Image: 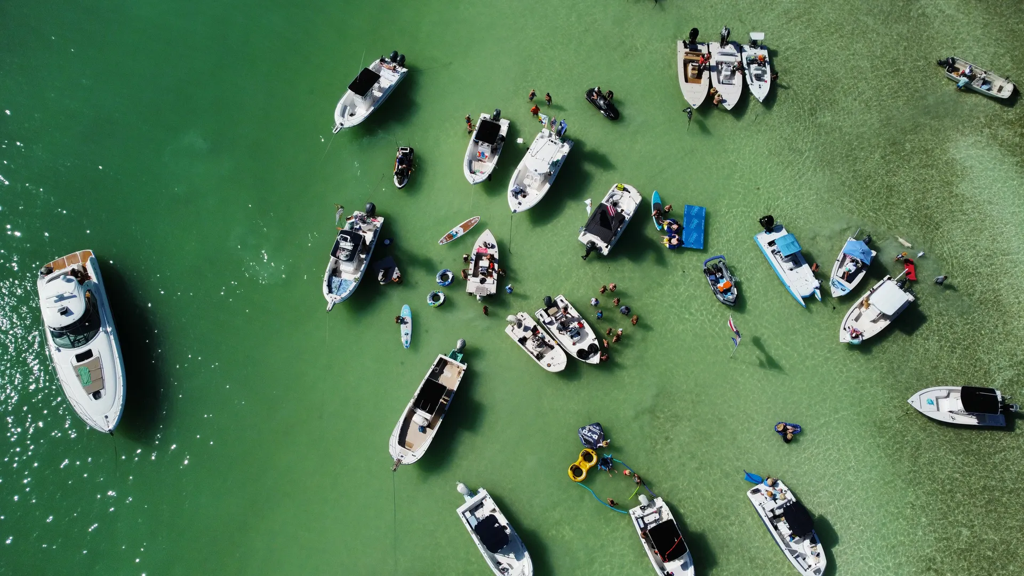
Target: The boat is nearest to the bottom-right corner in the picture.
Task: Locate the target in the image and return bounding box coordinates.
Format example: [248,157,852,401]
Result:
[898,386,1022,427]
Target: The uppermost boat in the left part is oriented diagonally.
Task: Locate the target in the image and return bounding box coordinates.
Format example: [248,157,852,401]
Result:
[337,52,433,133]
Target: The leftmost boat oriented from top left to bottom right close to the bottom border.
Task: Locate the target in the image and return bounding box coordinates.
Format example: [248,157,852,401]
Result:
[454,473,531,576]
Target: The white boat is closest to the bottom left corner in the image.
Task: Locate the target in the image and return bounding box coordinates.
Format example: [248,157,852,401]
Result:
[41,246,134,446]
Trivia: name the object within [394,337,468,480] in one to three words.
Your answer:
boat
